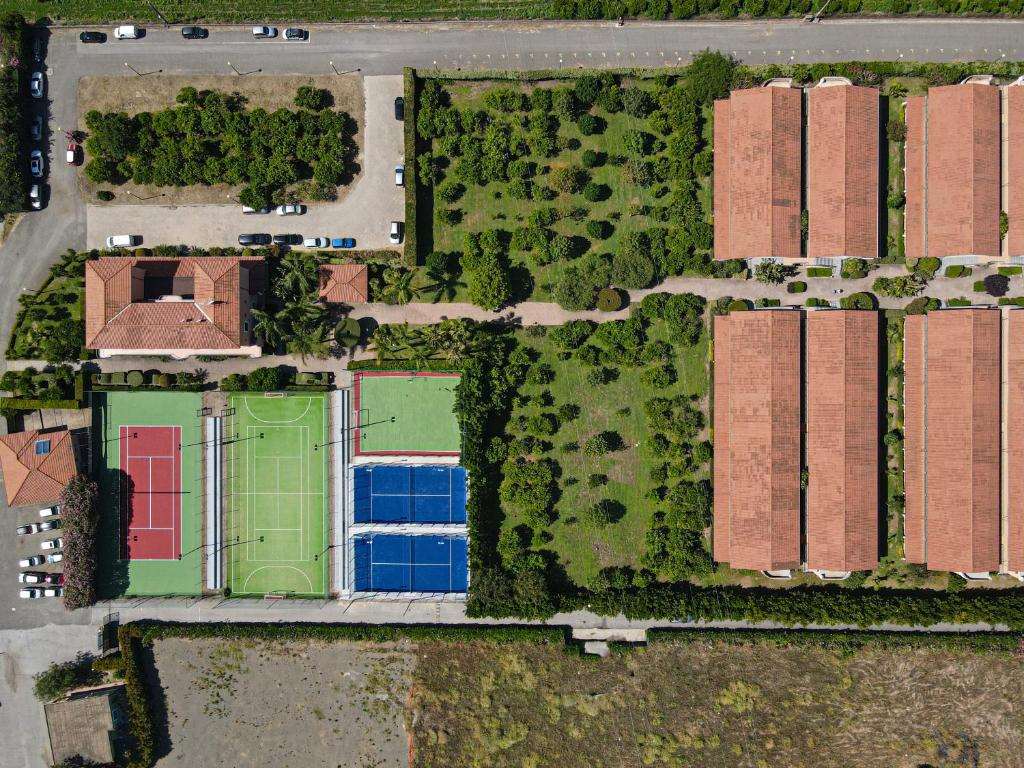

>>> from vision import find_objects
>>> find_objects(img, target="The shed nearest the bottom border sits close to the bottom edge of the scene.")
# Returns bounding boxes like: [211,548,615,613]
[45,691,121,768]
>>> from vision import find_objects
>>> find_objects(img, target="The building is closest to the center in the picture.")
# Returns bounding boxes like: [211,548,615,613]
[319,264,369,303]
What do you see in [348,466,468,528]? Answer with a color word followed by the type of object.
blue sports court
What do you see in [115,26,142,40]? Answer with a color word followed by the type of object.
white vehicle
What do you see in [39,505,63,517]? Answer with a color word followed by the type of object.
white vehicle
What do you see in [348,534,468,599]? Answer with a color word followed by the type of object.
blue sports court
